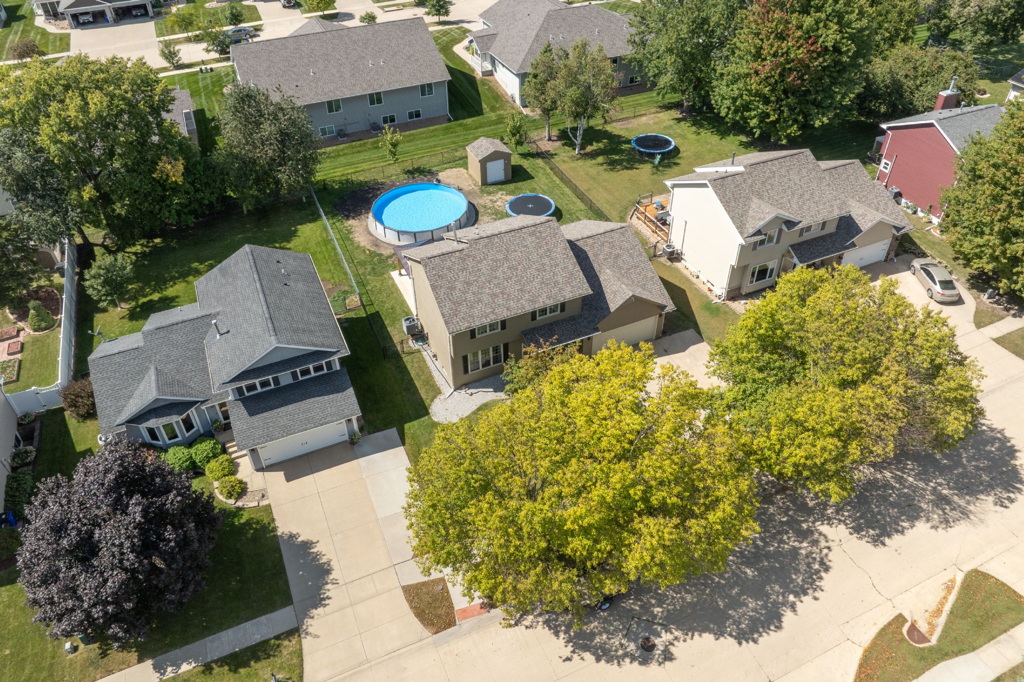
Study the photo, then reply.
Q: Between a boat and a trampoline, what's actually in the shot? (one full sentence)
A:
Looking from above, you can make out a trampoline.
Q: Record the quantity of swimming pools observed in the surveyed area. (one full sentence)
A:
In total, there is 1 swimming pool in the scene.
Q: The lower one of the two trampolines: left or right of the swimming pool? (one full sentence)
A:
Compared with the swimming pool, the lower one of the two trampolines is located further to the right.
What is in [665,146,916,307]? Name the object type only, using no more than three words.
house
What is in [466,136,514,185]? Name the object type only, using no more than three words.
shed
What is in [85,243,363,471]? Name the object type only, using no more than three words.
house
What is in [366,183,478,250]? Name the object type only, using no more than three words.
swimming pool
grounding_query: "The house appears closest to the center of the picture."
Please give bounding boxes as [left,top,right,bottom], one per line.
[397,214,678,403]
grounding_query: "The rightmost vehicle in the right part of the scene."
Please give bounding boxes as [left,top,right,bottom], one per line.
[910,257,963,303]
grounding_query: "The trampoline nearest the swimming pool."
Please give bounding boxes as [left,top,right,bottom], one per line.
[506,193,555,218]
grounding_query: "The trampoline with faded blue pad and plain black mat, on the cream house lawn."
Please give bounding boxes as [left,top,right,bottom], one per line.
[631,133,675,162]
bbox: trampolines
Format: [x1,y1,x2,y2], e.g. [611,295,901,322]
[631,133,675,162]
[506,193,555,218]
